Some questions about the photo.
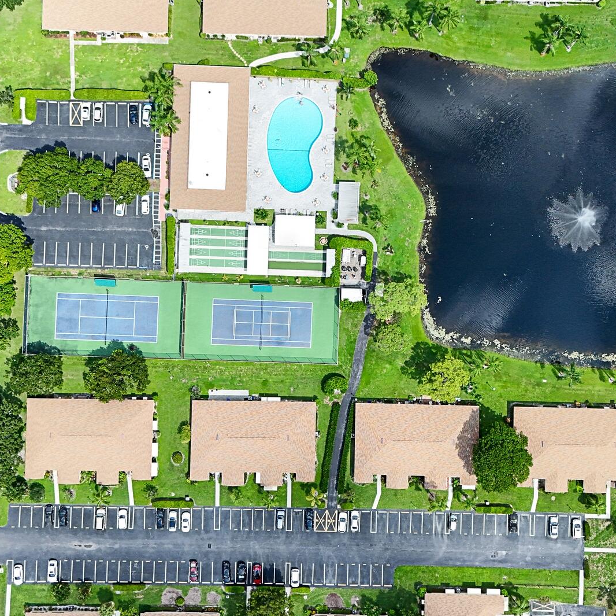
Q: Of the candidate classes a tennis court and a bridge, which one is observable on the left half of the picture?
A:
tennis court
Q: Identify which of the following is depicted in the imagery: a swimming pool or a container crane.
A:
swimming pool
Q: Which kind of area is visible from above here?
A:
residential area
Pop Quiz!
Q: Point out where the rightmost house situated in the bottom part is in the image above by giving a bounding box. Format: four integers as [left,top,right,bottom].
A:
[511,405,616,494]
